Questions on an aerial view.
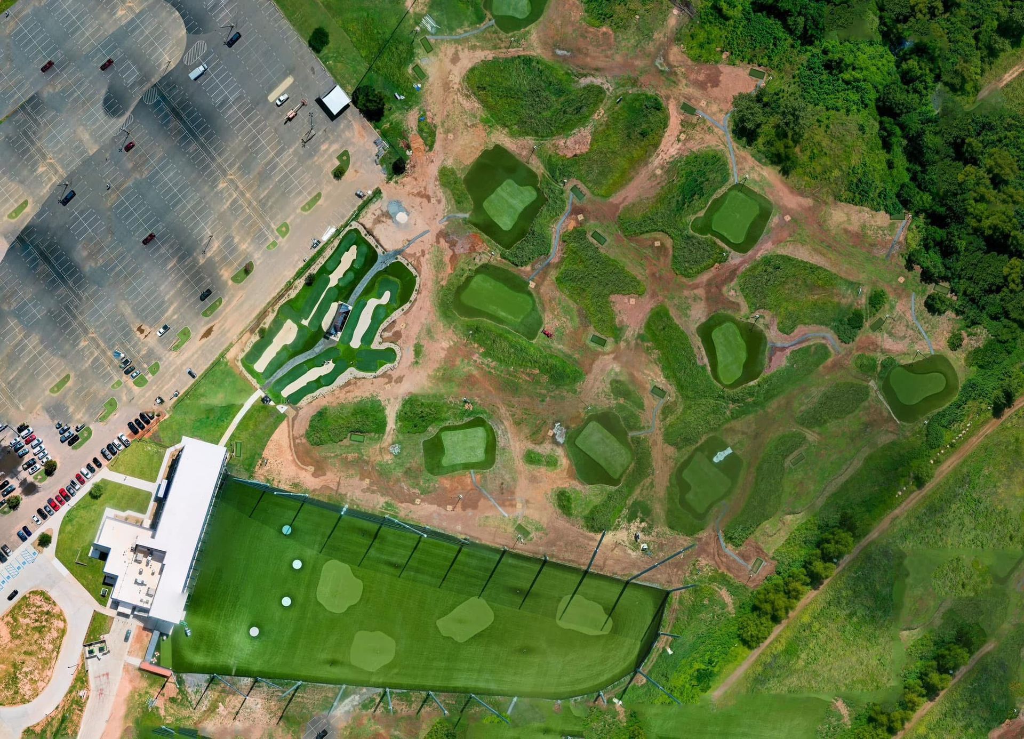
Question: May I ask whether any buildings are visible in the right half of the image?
No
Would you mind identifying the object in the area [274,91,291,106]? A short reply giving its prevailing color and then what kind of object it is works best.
white vehicle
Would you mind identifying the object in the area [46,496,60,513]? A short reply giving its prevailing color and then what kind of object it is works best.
red vehicle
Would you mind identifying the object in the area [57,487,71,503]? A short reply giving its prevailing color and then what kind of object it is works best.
red vehicle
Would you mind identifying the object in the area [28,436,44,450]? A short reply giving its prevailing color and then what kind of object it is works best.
white vehicle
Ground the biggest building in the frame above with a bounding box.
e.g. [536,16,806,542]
[88,436,236,624]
